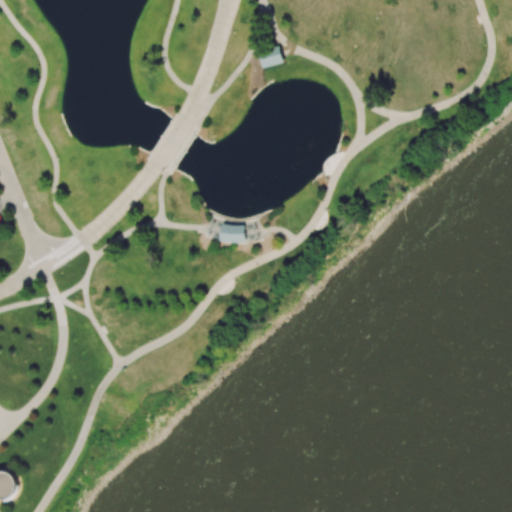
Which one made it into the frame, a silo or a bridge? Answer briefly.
bridge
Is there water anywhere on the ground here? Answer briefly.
Yes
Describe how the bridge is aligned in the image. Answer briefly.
on a diagonal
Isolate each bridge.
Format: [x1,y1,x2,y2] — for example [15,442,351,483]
[144,106,204,174]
